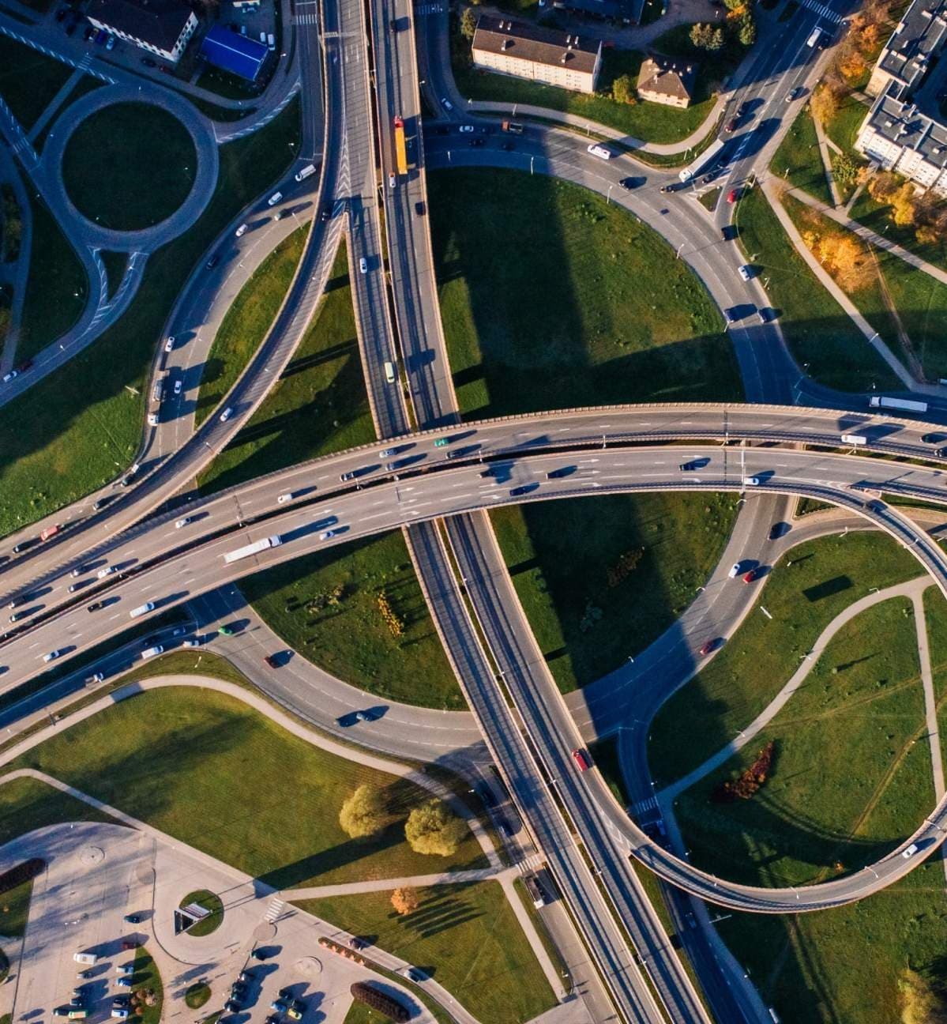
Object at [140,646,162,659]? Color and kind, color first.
white vehicle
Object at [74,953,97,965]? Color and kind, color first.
white vehicle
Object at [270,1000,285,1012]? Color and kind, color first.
blue vehicle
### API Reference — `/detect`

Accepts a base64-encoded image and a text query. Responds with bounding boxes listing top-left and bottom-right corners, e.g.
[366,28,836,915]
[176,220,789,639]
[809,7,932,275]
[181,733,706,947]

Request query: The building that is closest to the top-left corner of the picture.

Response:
[86,0,199,66]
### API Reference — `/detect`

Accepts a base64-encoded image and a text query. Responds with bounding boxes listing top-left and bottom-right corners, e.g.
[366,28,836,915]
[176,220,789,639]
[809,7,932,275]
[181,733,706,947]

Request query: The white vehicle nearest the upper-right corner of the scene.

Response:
[805,24,824,49]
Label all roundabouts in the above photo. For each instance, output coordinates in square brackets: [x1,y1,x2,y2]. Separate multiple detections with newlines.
[43,77,219,251]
